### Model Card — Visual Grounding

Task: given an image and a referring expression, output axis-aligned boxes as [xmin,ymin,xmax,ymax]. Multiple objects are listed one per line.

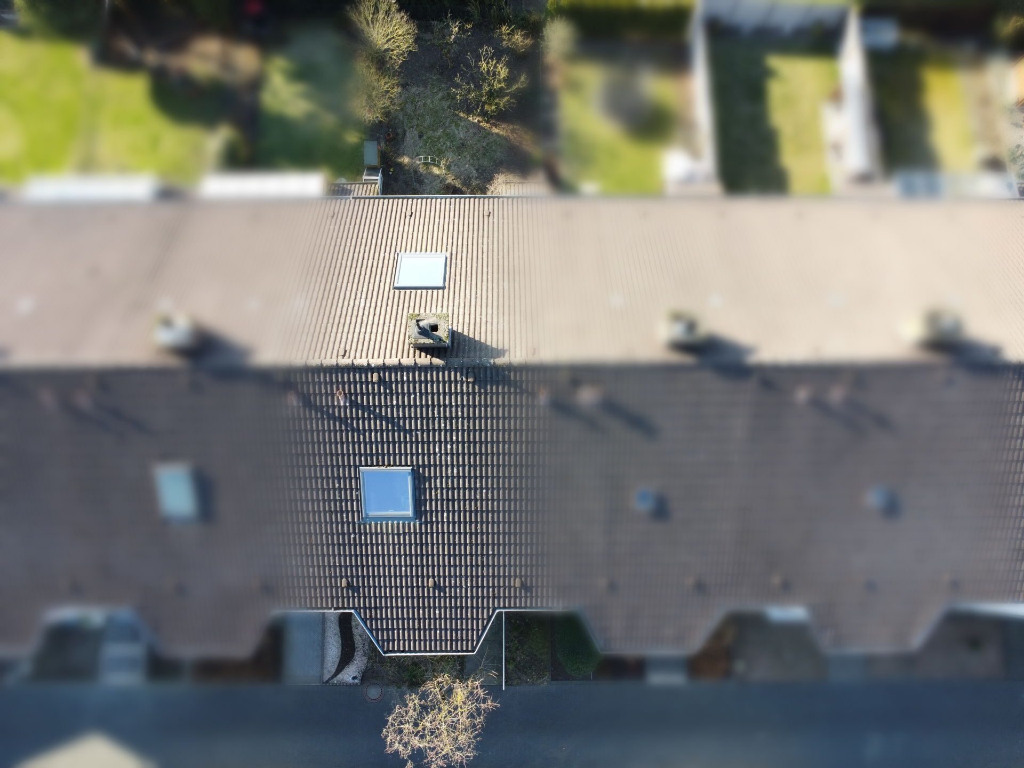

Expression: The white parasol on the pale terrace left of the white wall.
[658,143,702,193]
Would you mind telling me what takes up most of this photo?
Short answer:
buildings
